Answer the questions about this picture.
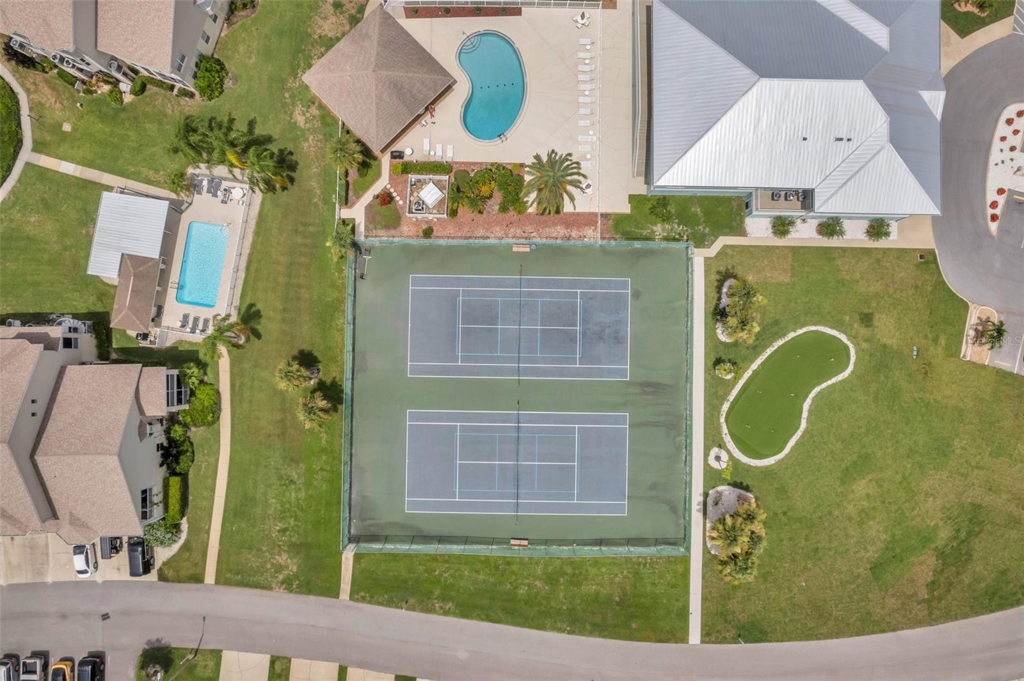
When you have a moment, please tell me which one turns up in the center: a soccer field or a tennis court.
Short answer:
tennis court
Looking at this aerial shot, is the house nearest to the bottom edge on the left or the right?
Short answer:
left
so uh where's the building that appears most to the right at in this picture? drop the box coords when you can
[631,0,952,220]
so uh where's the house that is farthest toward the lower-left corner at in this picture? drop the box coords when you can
[0,318,188,544]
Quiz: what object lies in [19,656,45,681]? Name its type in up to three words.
truck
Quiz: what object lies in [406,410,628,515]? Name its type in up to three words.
tennis court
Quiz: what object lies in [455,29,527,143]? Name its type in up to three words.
swimming pool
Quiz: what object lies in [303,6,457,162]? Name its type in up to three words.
building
